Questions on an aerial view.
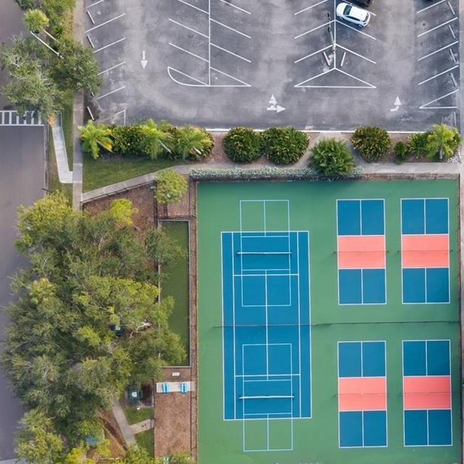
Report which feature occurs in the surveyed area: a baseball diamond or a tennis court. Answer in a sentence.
Visible in the photo is a tennis court.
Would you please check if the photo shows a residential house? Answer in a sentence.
No, there appears to be no residential house in this shot.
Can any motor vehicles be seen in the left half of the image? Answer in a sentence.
No, the scene shows no motor vehicle in the left half of the image.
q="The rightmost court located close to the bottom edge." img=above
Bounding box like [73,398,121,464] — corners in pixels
[400,340,454,447]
